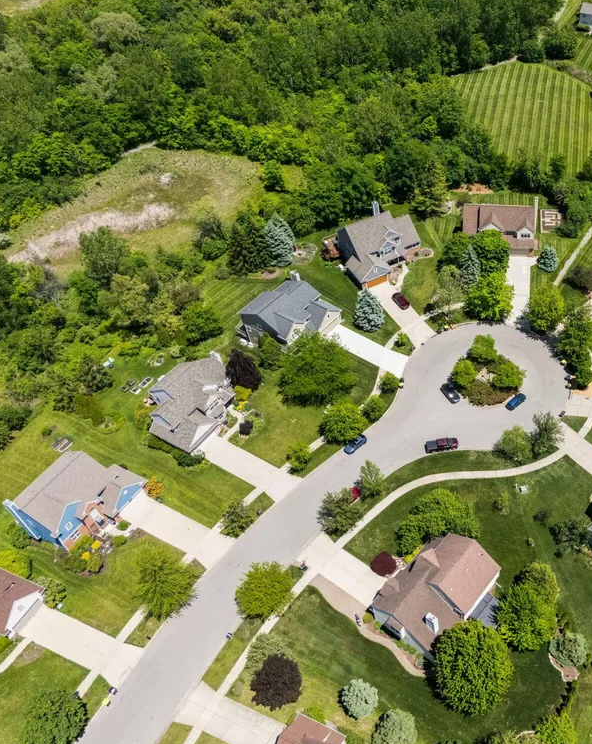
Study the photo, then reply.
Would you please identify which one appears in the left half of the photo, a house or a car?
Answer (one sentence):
The feature located in the left half of the photo is a house.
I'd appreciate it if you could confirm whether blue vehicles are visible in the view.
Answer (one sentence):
Yes, you can see a blue vehicle in this photo.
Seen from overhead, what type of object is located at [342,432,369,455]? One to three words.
car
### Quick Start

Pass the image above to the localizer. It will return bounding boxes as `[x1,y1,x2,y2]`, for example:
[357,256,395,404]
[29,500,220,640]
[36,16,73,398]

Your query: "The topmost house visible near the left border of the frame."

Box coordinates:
[0,452,146,547]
